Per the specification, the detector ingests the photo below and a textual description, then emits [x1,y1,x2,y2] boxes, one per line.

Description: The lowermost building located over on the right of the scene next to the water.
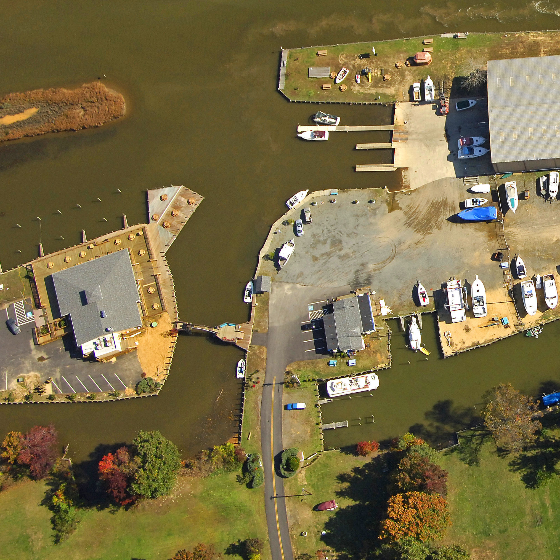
[324,288,380,358]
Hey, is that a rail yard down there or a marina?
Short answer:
marina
